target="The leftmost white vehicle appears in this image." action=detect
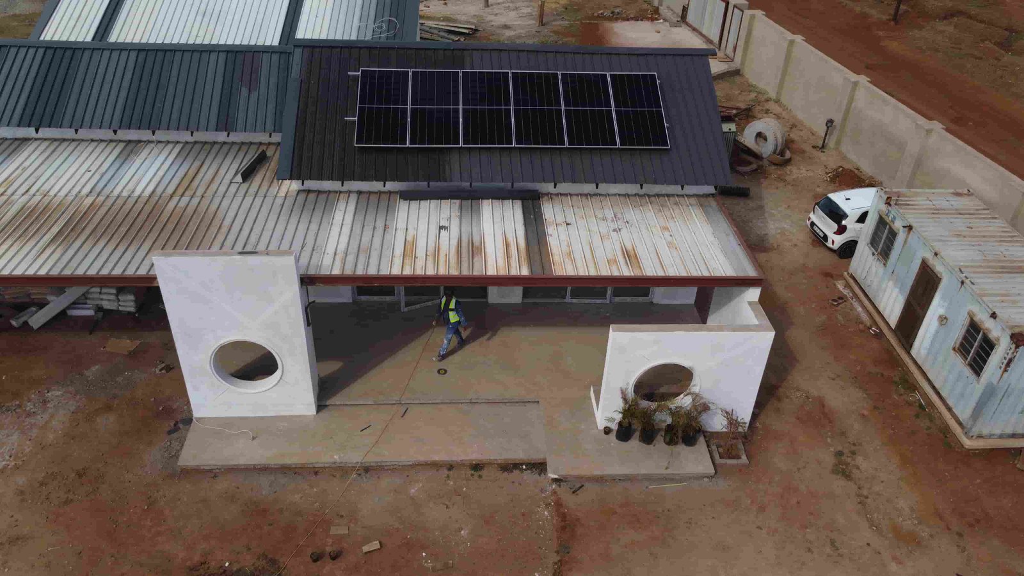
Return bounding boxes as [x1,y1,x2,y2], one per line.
[810,186,880,257]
